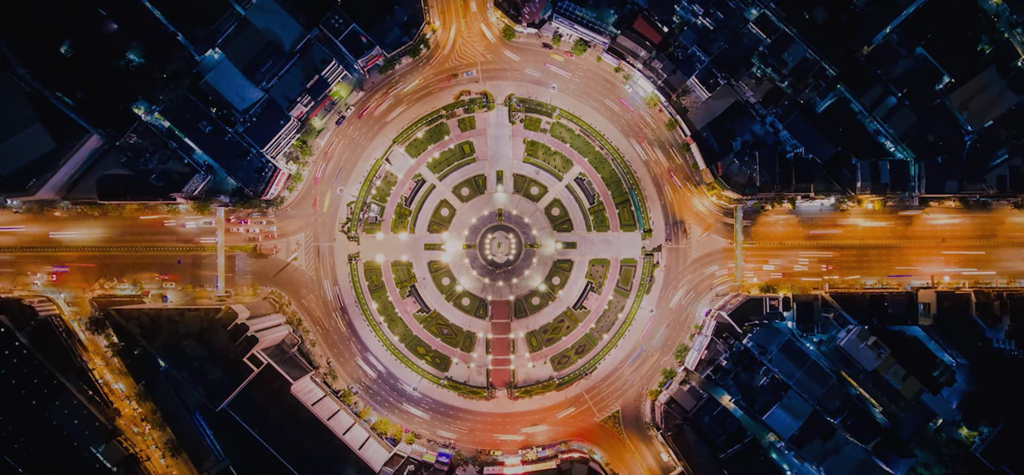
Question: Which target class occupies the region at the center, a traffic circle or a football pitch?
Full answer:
There is a traffic circle at the center.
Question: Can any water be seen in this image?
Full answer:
No, there's no water in this view.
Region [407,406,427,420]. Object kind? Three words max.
vehicle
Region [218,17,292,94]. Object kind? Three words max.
building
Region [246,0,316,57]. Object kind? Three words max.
building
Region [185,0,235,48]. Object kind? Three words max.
house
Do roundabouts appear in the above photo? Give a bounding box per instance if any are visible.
[286,32,714,449]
